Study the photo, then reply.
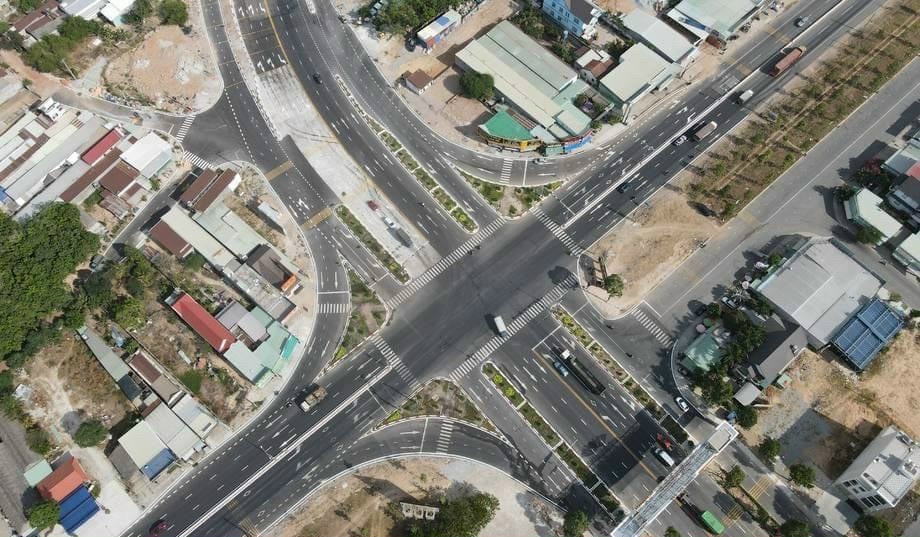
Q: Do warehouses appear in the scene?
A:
Yes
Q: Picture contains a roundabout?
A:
No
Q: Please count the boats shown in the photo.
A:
0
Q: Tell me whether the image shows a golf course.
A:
No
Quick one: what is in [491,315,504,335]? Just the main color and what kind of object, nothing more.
white vehicle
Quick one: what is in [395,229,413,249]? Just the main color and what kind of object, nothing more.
gray vehicle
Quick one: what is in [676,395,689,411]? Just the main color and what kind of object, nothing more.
white vehicle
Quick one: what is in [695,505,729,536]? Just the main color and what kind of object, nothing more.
green bus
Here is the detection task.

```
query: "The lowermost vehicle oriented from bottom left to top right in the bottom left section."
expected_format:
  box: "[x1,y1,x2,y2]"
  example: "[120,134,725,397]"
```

[150,518,167,534]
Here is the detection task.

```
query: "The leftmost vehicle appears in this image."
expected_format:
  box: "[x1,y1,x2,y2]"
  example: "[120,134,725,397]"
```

[90,253,103,267]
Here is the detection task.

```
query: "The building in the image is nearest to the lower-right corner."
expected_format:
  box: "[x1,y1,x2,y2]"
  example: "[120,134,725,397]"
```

[834,426,920,513]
